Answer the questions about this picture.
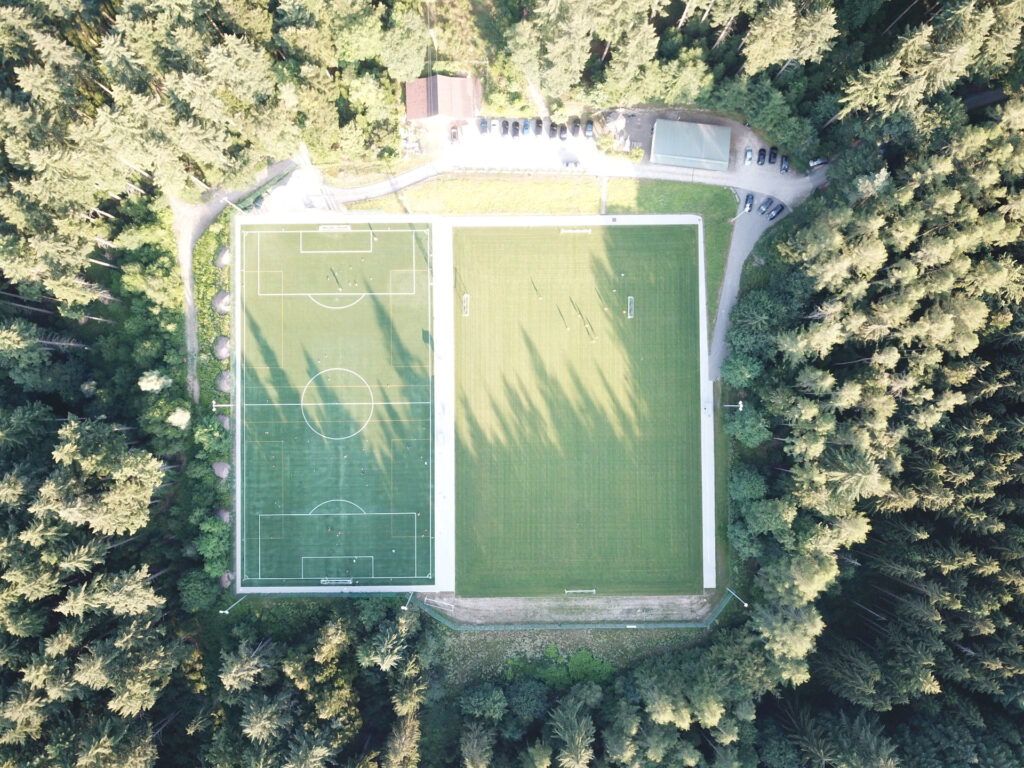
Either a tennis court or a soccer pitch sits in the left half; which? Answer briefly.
soccer pitch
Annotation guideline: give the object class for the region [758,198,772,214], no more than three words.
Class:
car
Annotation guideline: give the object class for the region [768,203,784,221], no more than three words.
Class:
car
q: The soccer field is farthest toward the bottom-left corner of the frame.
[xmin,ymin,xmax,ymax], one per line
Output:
[240,223,435,587]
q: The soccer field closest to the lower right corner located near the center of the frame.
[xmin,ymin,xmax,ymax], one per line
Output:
[453,225,704,597]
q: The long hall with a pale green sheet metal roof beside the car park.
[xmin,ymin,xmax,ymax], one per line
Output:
[650,119,732,171]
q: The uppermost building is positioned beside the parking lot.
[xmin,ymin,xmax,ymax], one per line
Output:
[407,72,483,122]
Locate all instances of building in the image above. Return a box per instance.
[650,119,732,171]
[407,72,483,122]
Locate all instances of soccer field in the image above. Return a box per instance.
[453,225,704,597]
[240,223,435,587]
